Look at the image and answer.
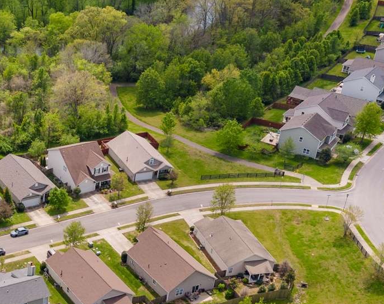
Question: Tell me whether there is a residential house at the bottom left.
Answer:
Yes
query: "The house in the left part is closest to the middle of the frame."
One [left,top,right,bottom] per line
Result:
[107,131,176,182]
